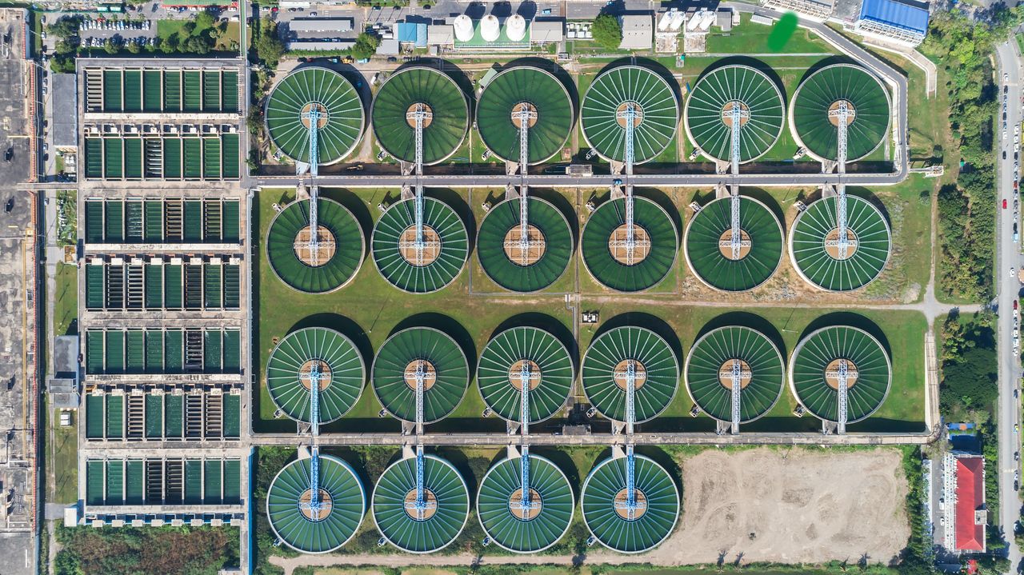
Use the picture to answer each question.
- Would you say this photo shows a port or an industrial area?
industrial area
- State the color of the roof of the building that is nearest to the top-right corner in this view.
blue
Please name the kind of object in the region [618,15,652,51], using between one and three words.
building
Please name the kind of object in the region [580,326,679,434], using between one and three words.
storage tank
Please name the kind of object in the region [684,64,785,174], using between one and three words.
storage tank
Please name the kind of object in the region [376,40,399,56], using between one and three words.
shed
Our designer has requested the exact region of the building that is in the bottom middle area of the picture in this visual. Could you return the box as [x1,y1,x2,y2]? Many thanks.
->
[562,423,591,435]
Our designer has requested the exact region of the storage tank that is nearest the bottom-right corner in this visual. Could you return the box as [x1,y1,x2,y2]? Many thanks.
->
[788,325,891,433]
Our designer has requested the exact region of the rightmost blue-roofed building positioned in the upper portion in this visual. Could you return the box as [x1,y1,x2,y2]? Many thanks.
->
[853,0,934,49]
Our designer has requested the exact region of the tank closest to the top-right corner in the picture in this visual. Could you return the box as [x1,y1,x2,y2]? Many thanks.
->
[788,64,891,174]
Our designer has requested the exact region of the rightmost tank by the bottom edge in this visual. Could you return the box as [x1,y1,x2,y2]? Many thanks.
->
[580,445,680,553]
